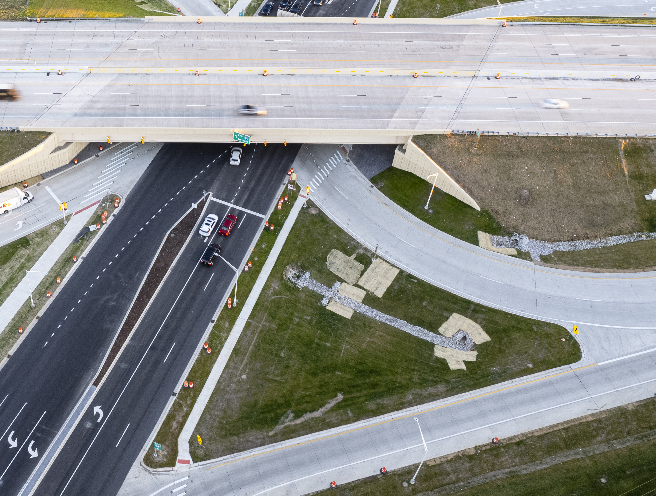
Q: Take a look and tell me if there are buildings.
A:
No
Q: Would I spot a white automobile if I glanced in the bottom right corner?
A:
No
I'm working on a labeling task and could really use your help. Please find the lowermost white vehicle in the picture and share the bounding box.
[199,215,219,237]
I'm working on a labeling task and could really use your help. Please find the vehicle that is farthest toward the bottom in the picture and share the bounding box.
[200,244,221,269]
